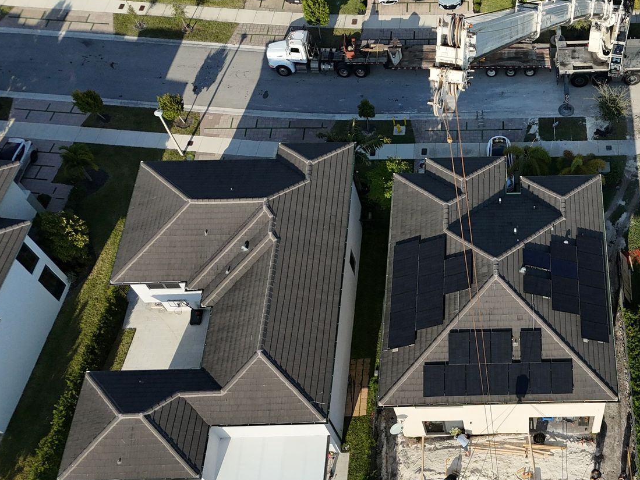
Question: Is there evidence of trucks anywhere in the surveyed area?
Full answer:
Yes, there is a truck in the image.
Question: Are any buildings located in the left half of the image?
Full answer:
Yes, there is a building in the left half of the image.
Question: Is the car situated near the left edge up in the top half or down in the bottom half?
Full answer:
The top half of the photo is where the car situated near the left edge is.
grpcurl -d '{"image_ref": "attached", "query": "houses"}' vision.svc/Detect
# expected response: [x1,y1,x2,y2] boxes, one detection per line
[57,142,364,480]
[0,159,69,427]
[377,154,620,436]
